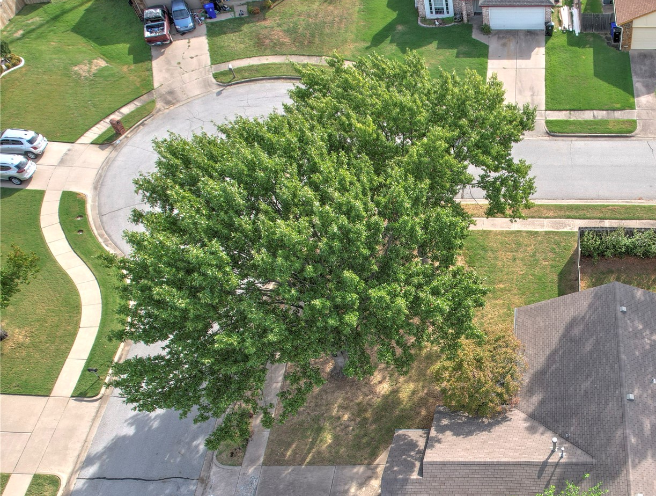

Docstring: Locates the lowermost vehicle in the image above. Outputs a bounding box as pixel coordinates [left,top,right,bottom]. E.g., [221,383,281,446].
[0,158,35,190]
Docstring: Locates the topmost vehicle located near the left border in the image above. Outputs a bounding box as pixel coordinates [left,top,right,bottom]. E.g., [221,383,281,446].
[0,131,46,163]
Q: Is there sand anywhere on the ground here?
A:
No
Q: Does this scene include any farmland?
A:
No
